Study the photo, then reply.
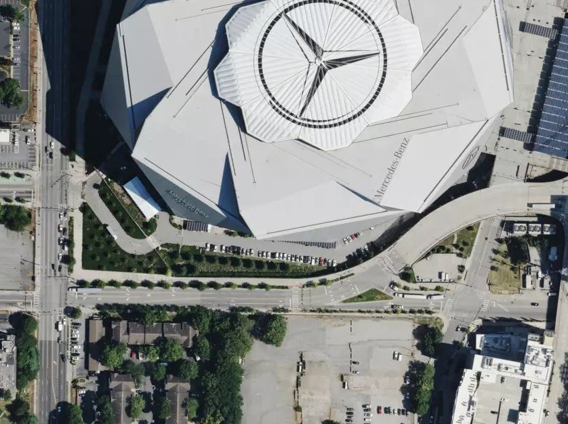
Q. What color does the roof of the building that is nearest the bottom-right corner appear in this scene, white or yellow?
white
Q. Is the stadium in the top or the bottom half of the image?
top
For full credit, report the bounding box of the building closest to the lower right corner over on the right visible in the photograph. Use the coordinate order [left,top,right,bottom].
[517,382,548,424]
